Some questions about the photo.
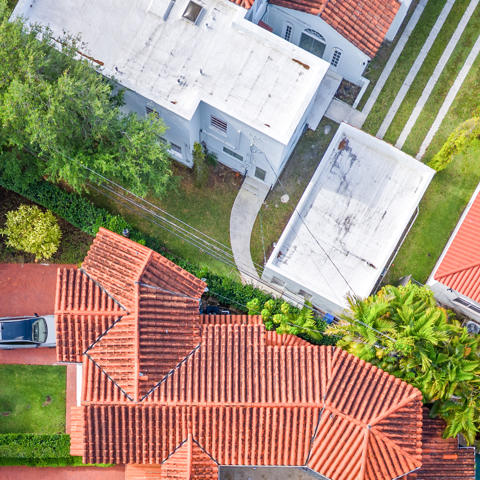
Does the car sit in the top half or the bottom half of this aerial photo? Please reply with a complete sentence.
The car sits in the bottom half of the picture.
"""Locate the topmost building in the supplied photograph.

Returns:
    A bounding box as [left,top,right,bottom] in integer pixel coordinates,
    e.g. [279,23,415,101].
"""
[9,0,413,206]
